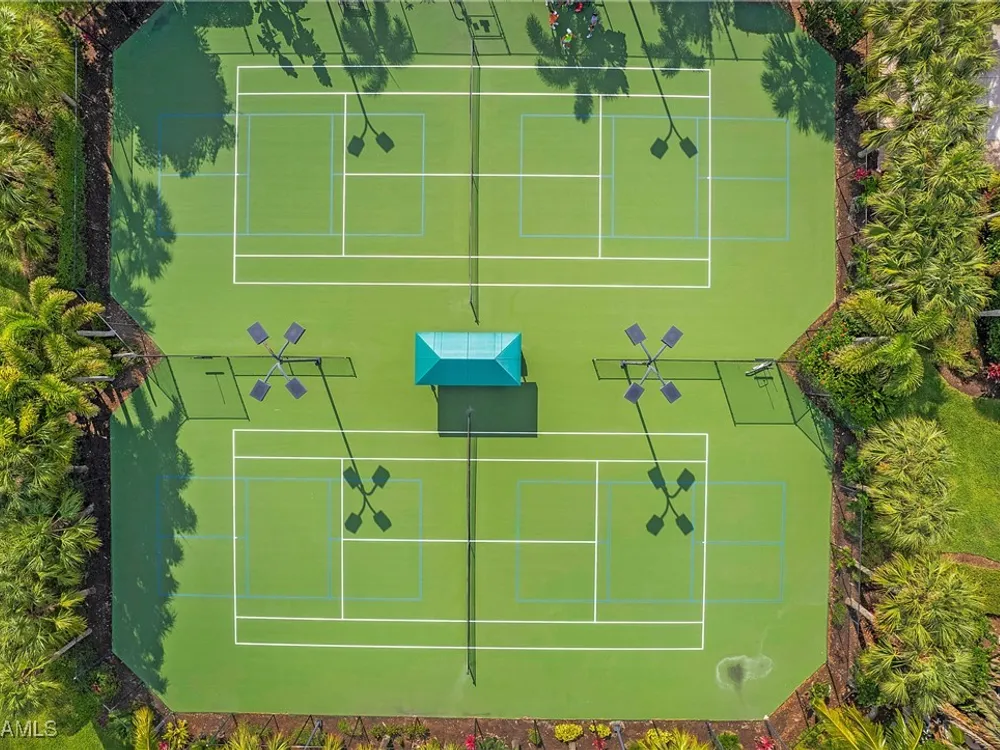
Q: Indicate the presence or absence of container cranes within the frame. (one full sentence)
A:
No, there appears to be no container crane in this shot.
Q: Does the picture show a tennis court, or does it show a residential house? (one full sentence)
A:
Visible in the photo is a tennis court.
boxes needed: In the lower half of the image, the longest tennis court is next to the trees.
[109,356,832,720]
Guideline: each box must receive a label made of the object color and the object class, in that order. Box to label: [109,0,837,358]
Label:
green tennis court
